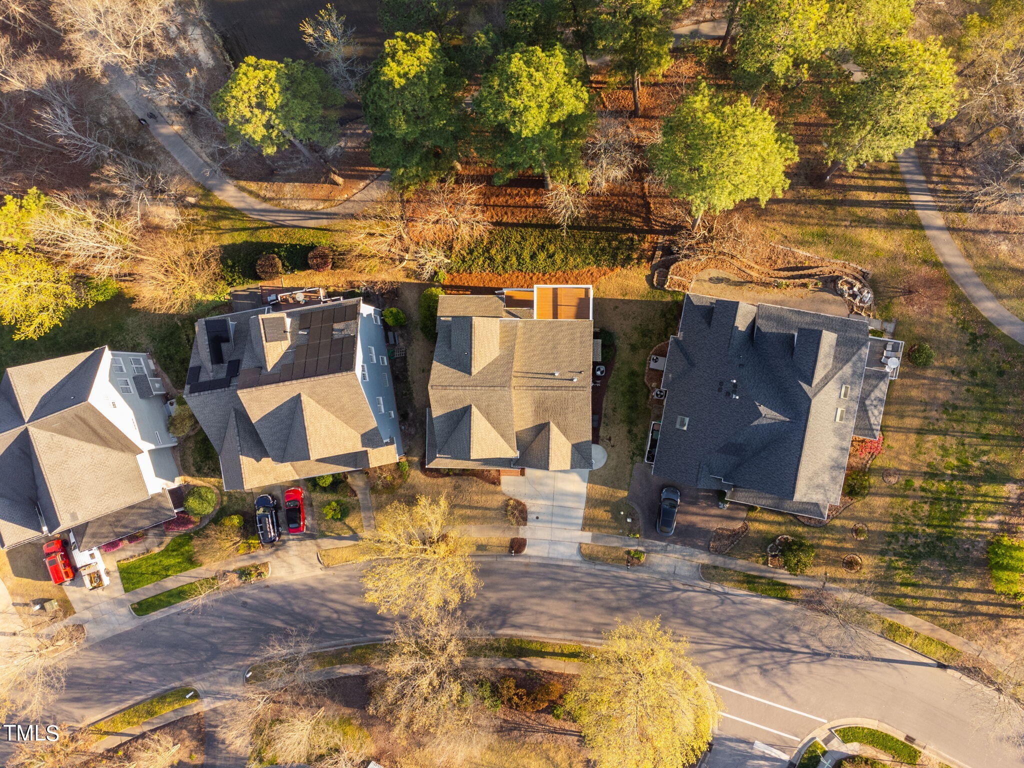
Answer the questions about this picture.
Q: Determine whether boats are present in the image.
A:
No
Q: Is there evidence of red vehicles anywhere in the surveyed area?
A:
Yes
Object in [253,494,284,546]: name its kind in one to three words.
car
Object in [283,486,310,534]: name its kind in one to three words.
car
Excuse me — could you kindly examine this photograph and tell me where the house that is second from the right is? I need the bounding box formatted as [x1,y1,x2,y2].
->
[425,284,597,477]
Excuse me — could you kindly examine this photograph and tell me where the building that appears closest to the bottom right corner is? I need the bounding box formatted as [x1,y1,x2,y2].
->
[650,291,906,520]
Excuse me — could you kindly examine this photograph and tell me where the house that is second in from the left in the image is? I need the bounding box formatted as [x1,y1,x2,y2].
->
[179,296,403,491]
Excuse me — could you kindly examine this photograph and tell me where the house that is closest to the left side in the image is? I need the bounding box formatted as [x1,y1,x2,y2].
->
[0,345,188,552]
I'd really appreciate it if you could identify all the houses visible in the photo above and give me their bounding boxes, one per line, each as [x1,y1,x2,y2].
[650,291,906,520]
[0,345,188,552]
[179,296,403,491]
[425,284,597,477]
